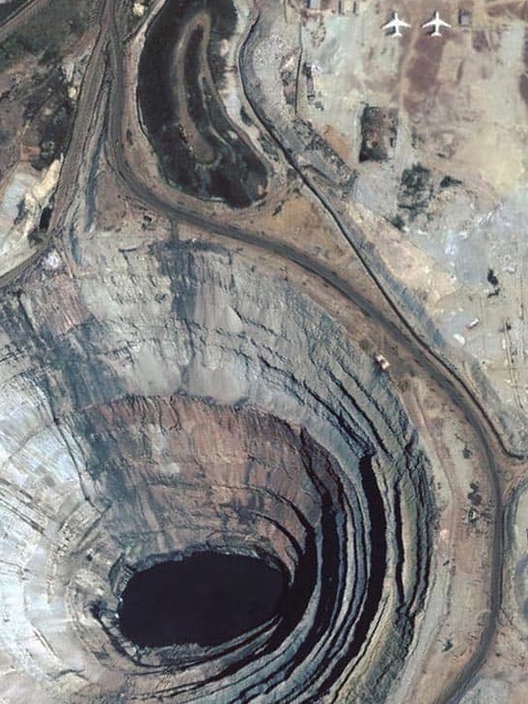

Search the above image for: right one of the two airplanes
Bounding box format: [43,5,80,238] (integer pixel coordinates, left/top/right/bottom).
[424,12,450,36]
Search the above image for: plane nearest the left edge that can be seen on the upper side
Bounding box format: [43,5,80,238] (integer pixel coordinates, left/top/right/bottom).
[384,12,411,37]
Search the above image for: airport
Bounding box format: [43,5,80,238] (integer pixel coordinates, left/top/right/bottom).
[346,0,480,51]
